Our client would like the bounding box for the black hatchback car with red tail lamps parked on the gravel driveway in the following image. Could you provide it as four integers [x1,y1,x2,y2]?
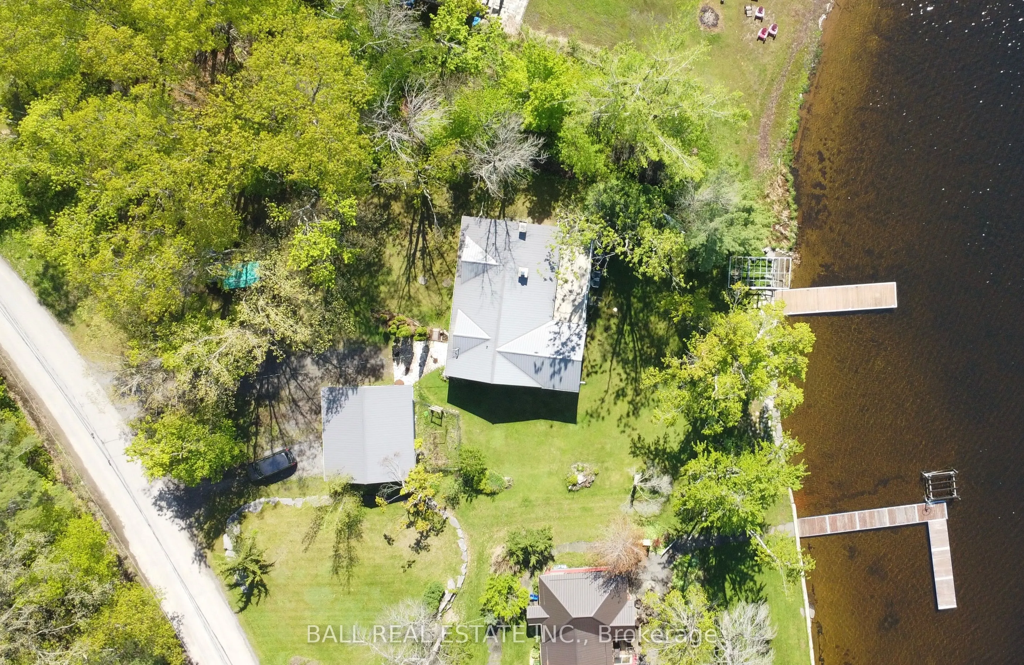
[245,452,296,486]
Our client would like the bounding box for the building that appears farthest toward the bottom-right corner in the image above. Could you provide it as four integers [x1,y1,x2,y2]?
[527,567,637,665]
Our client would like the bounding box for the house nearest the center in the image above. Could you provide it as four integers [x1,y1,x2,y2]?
[443,217,594,395]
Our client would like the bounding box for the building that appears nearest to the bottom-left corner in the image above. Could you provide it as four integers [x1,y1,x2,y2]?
[320,383,417,486]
